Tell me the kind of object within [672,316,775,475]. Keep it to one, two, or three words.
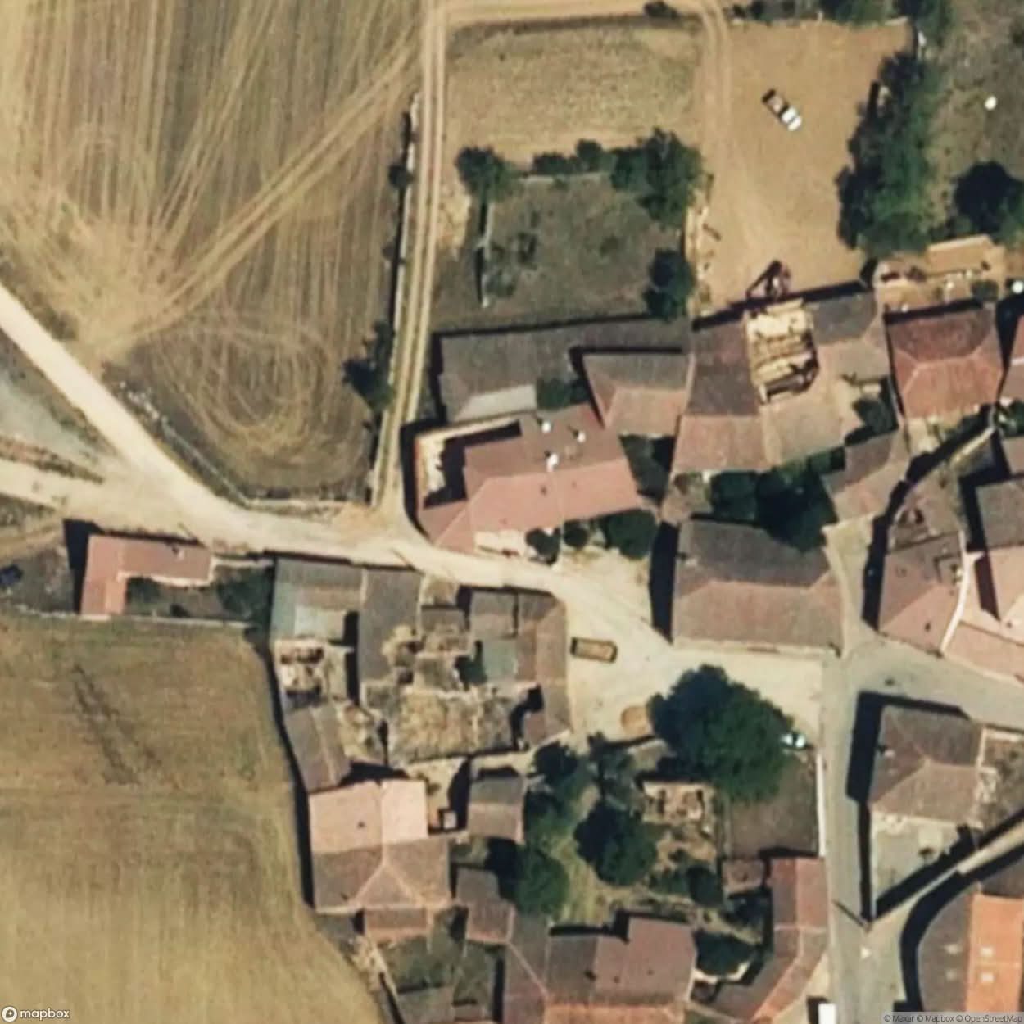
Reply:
barn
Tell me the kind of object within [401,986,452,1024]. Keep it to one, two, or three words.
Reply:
shed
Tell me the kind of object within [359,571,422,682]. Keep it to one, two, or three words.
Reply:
barn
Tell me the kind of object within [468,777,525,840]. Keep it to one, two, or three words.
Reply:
house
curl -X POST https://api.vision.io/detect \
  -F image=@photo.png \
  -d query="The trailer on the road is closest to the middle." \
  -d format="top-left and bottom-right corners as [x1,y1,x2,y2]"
[566,637,617,662]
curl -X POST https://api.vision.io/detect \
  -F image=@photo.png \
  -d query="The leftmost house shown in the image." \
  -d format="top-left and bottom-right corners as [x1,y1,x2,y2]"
[82,537,211,615]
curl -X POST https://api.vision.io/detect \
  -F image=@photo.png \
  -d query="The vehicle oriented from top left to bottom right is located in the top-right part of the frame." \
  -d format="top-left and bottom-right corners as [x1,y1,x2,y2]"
[764,92,801,130]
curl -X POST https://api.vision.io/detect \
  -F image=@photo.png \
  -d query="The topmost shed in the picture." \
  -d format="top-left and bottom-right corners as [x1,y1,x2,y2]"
[930,236,988,274]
